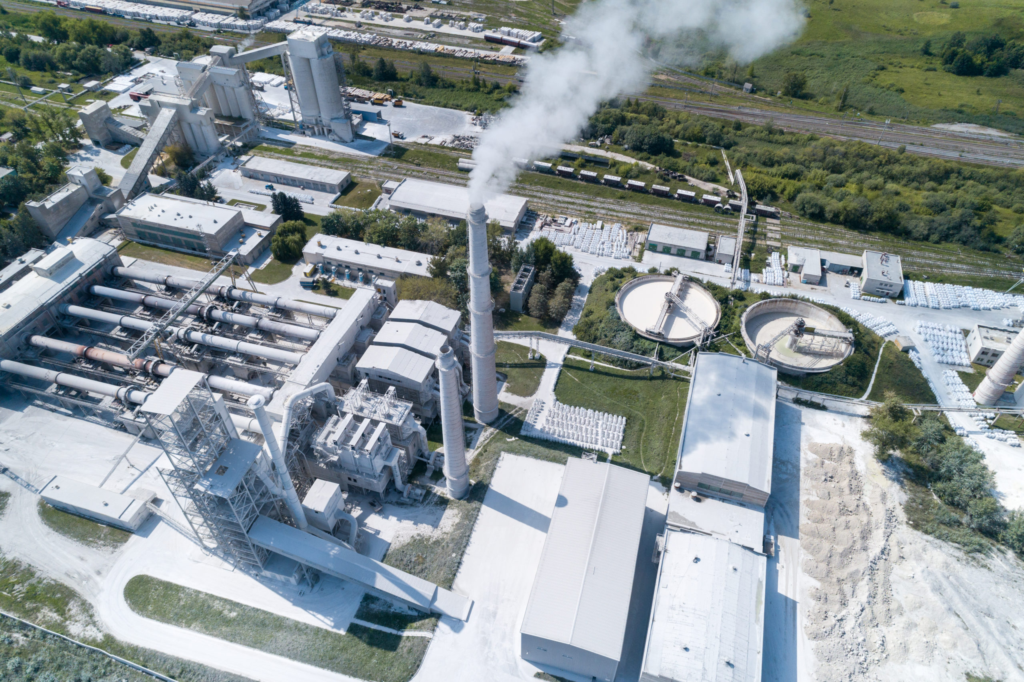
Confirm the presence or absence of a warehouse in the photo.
Yes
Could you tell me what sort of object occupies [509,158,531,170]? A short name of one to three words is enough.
rail car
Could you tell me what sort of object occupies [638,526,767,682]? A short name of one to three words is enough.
warehouse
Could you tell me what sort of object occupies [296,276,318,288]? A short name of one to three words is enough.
vehicle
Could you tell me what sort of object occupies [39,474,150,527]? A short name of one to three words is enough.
building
